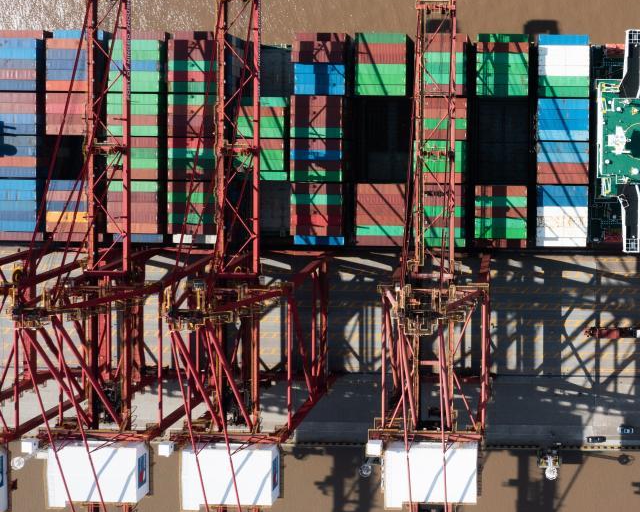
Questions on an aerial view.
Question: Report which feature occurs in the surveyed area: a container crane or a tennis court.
container crane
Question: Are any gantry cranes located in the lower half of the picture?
Yes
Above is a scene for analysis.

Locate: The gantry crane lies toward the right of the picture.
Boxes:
[358,0,498,512]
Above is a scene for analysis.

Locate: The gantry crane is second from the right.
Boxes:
[156,0,345,512]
